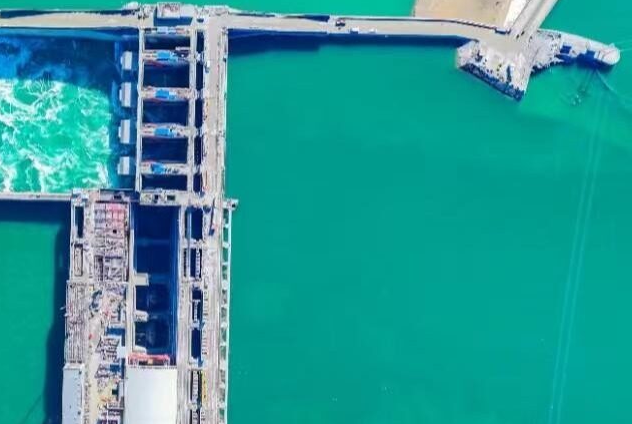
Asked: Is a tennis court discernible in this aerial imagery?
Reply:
No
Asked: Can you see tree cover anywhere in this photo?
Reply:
No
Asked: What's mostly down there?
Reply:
water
